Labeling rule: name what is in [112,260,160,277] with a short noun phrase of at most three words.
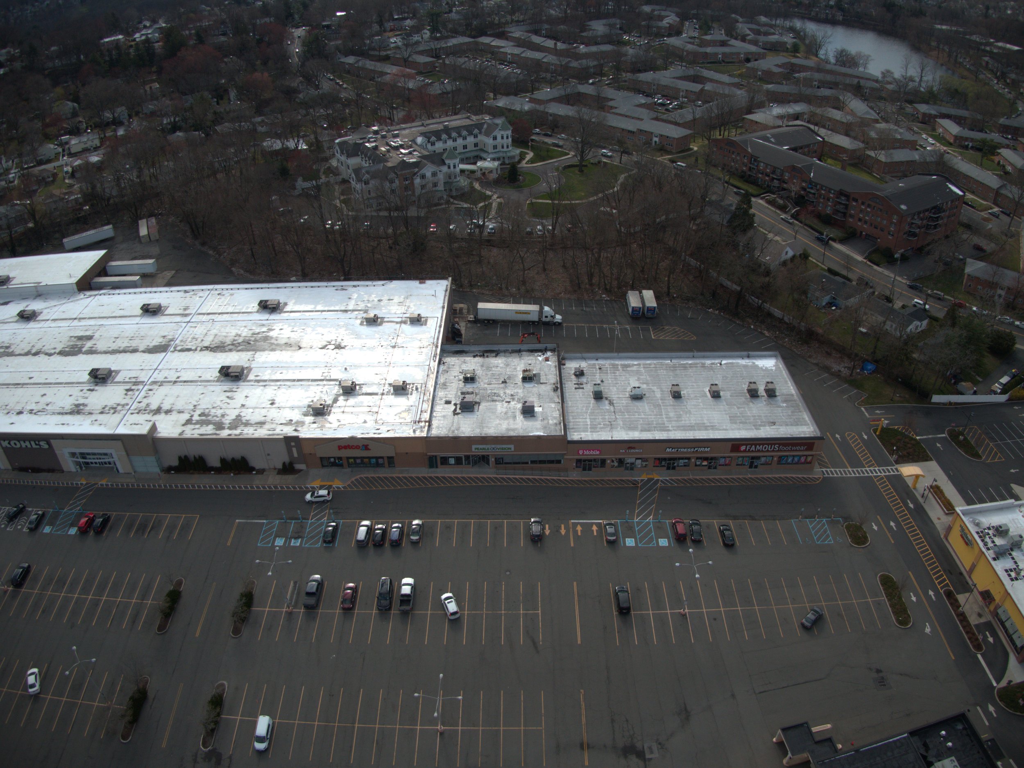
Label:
trailer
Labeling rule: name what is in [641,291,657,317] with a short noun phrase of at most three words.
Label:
vehicle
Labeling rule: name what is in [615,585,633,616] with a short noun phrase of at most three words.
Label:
car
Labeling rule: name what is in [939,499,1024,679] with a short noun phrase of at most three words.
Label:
building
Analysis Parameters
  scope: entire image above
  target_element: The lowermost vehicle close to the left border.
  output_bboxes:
[22,664,45,700]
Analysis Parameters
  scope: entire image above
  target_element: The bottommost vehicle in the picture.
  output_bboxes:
[250,711,275,756]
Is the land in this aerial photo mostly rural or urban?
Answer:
urban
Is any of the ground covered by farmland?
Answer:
No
